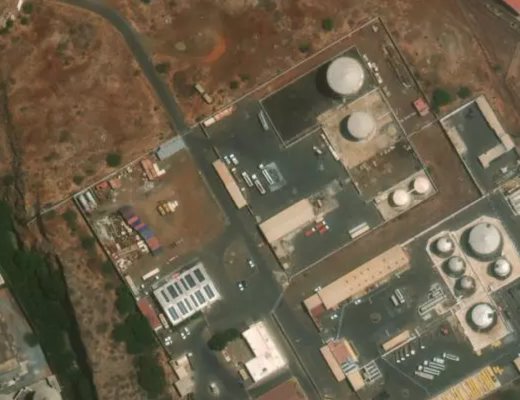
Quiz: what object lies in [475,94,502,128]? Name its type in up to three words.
building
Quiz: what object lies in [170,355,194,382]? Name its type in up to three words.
house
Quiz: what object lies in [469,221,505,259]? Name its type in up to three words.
storage tank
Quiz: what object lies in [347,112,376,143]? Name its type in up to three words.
storage tank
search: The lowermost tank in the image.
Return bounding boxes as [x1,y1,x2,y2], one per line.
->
[468,303,498,332]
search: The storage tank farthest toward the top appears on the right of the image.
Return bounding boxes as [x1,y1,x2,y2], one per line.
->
[327,57,367,97]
